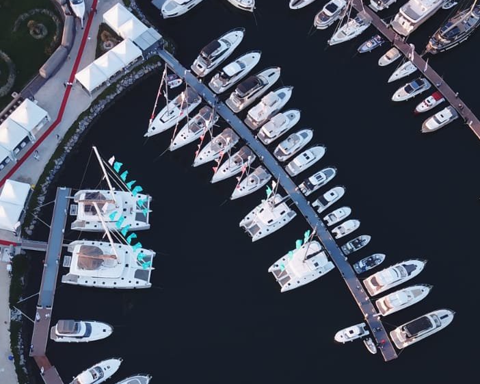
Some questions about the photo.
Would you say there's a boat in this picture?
Yes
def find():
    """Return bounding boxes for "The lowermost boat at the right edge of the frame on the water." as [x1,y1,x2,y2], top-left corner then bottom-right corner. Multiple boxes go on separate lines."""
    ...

[385,309,460,350]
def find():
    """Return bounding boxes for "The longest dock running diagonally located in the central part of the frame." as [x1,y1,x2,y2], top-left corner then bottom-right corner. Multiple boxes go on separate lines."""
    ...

[183,72,398,363]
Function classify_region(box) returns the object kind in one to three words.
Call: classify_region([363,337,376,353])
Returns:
boat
